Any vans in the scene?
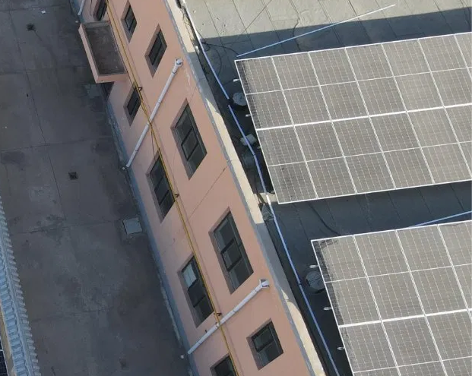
No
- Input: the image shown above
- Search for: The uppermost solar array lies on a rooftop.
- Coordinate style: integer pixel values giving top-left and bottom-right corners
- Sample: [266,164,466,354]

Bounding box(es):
[228,31,472,205]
